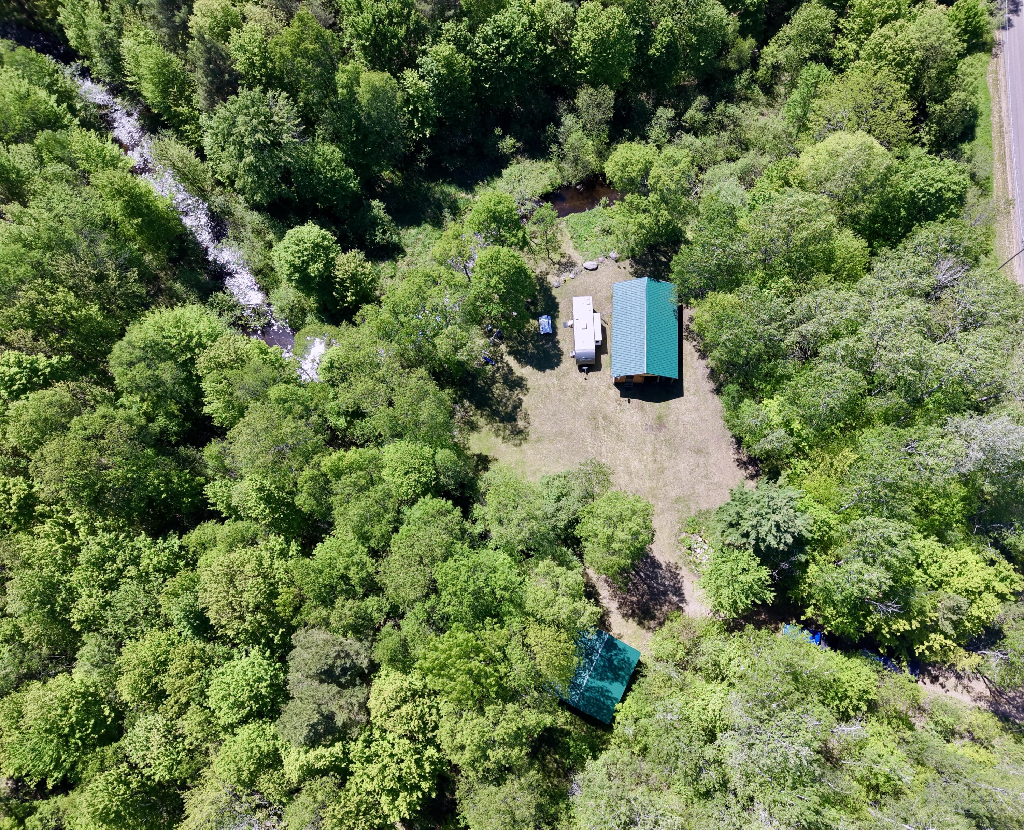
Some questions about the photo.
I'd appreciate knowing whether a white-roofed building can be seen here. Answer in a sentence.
No, the frame has no white-roofed building in it.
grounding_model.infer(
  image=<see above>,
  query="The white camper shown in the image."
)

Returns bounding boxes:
[572,296,602,375]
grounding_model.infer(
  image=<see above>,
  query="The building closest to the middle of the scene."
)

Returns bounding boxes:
[611,279,678,392]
